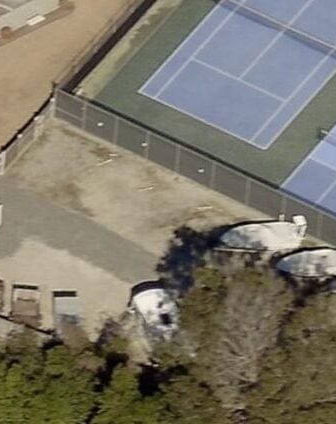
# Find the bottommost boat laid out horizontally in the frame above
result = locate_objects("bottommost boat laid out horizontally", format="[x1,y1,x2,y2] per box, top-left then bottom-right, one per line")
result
[275,249,336,277]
